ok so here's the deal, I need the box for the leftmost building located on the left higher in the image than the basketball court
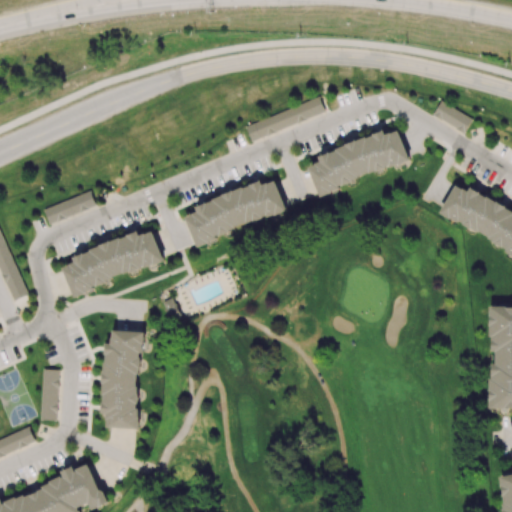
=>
[0,235,28,301]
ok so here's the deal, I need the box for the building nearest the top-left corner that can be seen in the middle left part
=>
[44,190,96,226]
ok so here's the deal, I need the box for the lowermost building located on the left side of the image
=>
[0,466,98,512]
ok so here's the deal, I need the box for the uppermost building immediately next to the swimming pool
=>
[186,180,287,247]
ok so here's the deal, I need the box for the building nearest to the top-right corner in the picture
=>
[435,101,474,132]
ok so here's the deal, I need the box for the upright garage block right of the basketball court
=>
[44,369,60,421]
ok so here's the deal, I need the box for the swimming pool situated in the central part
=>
[178,266,238,316]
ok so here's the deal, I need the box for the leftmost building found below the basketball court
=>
[0,426,35,456]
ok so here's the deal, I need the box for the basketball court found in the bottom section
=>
[0,368,38,426]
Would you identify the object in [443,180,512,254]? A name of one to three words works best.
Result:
building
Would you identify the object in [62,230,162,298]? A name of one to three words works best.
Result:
building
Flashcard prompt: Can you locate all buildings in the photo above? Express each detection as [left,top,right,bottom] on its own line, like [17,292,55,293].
[99,330,142,430]
[44,190,96,226]
[0,466,98,512]
[62,230,162,298]
[435,101,474,132]
[497,480,512,512]
[246,94,326,143]
[0,426,35,456]
[443,180,512,254]
[311,130,412,196]
[44,369,60,421]
[0,235,28,301]
[485,310,512,408]
[186,180,287,247]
